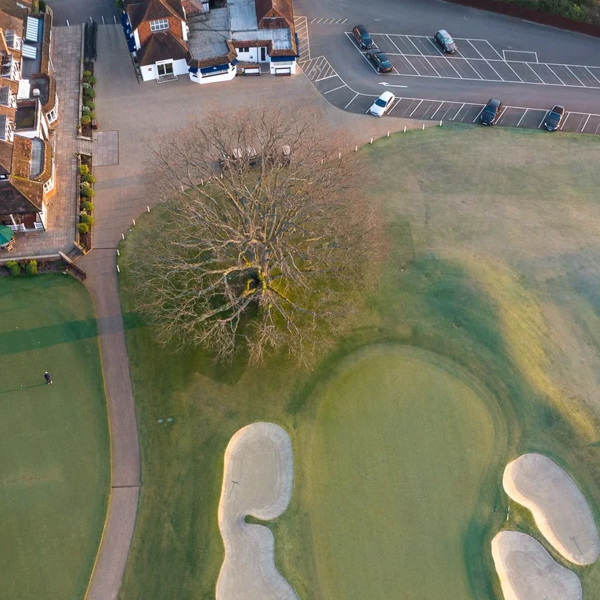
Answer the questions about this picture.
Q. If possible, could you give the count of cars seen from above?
6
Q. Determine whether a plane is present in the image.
No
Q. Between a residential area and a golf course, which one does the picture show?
golf course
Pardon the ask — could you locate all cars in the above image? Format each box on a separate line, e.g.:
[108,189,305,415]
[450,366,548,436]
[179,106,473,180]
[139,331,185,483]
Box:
[482,95,505,122]
[372,88,395,112]
[545,102,568,127]
[369,48,393,71]
[437,28,457,50]
[354,21,375,46]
